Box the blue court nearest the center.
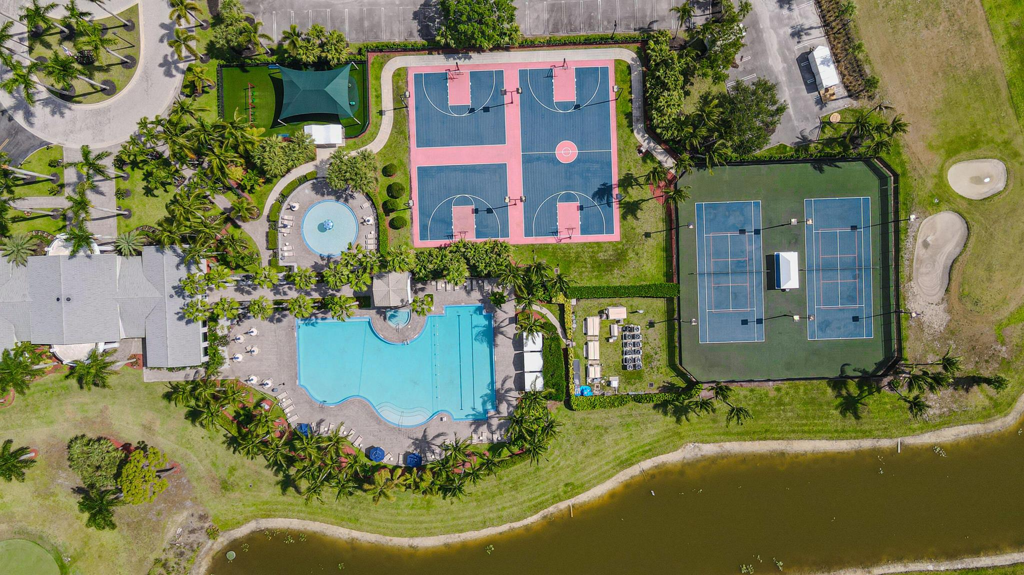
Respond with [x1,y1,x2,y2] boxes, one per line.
[416,162,509,241]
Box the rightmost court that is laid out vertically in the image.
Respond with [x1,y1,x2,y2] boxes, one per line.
[805,197,874,340]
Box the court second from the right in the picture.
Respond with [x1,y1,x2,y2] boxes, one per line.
[695,200,765,343]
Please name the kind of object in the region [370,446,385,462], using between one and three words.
umbrella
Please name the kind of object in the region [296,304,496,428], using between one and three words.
swimming pool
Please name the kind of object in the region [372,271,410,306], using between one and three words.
building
